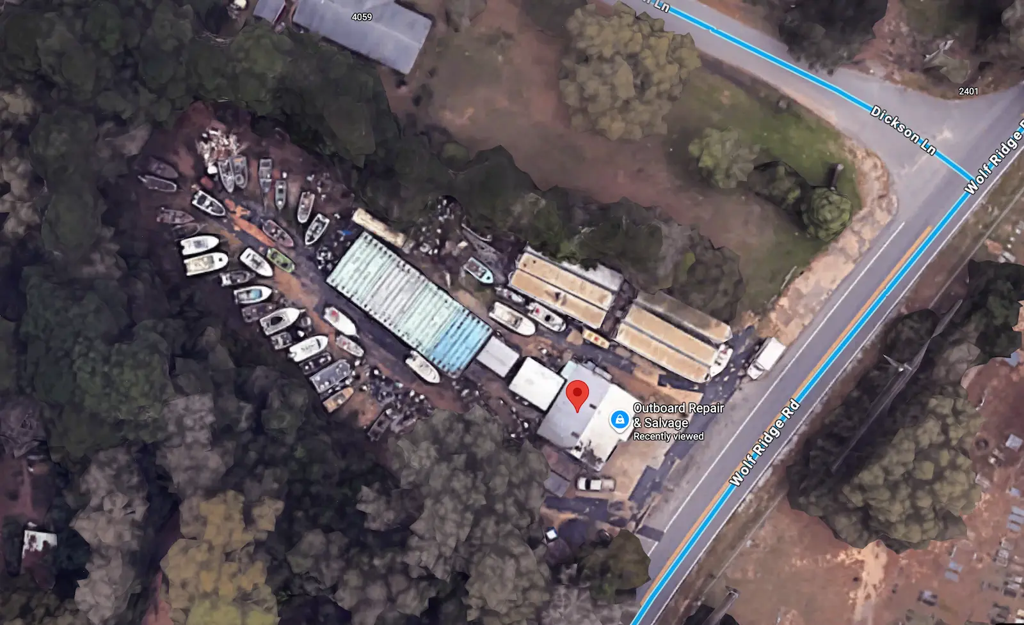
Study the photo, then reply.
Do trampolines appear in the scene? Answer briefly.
No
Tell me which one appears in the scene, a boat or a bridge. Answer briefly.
boat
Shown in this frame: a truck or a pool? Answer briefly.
truck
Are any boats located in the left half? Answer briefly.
Yes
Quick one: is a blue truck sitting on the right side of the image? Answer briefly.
No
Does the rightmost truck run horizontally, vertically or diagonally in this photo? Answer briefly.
diagonally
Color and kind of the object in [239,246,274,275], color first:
white boat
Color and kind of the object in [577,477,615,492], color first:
white vehicle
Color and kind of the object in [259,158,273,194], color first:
gray boat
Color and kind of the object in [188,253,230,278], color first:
white boat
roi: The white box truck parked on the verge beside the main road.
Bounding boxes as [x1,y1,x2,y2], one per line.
[748,337,786,380]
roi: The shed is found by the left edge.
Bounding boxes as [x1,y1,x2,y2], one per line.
[23,530,56,560]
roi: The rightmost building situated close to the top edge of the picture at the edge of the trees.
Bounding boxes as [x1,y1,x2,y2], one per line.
[294,0,433,74]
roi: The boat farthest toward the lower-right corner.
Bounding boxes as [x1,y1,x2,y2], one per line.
[710,341,734,378]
